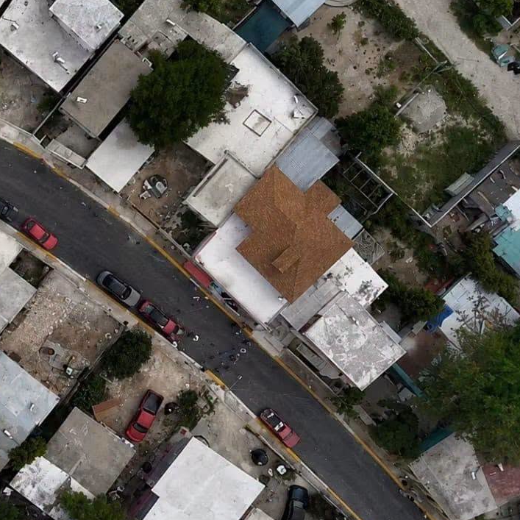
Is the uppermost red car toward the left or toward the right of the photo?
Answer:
left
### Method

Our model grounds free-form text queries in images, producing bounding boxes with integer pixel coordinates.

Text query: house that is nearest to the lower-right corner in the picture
[396,426,520,520]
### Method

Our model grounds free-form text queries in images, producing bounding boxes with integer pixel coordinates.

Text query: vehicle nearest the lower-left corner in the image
[127,388,163,443]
